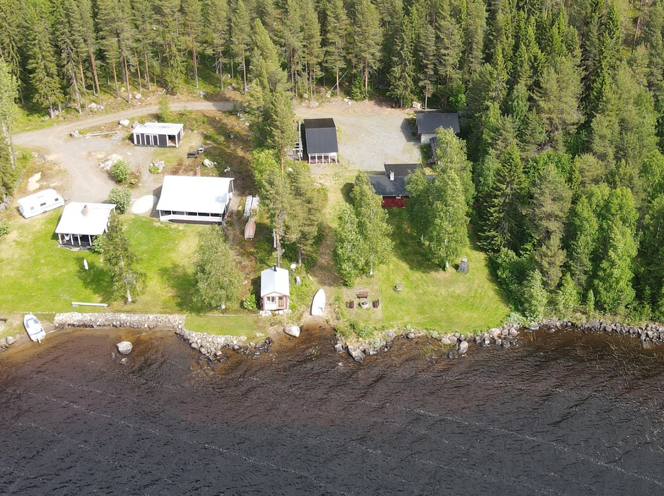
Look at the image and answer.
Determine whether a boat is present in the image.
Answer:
Yes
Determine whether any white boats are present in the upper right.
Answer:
No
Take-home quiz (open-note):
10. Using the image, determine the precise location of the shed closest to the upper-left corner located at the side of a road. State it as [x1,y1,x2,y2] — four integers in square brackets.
[130,120,185,148]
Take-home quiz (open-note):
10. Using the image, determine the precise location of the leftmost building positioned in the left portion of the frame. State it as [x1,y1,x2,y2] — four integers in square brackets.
[50,197,119,246]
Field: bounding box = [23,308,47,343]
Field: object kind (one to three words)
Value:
boat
